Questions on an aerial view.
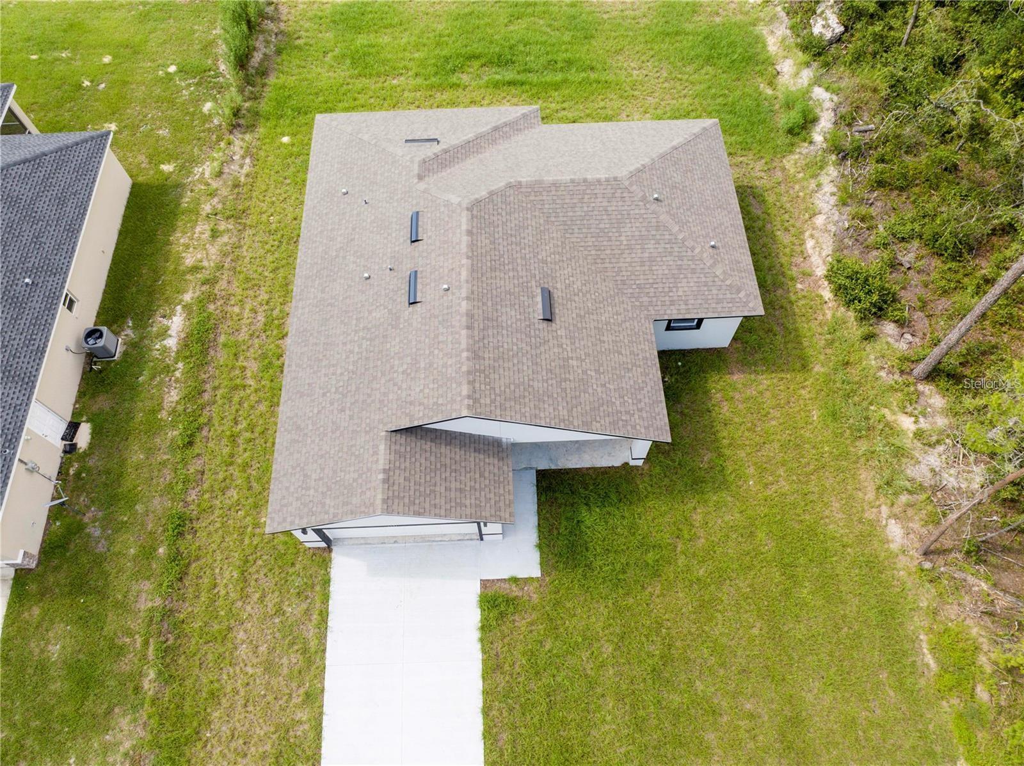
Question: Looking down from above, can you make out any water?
No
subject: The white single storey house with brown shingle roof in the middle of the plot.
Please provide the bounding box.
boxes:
[267,105,767,550]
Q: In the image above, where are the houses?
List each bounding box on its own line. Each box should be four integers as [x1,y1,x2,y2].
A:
[267,105,767,550]
[0,83,133,570]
